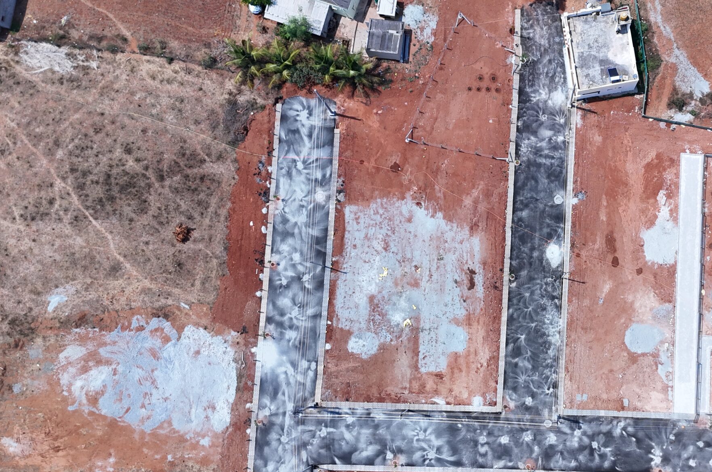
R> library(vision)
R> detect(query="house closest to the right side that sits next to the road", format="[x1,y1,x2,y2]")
[563,3,639,105]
